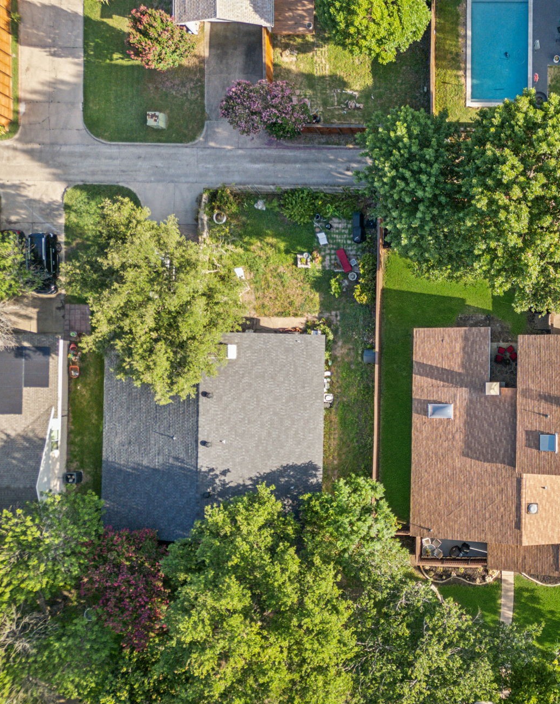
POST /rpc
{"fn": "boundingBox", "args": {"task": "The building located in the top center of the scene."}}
[173,0,281,47]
